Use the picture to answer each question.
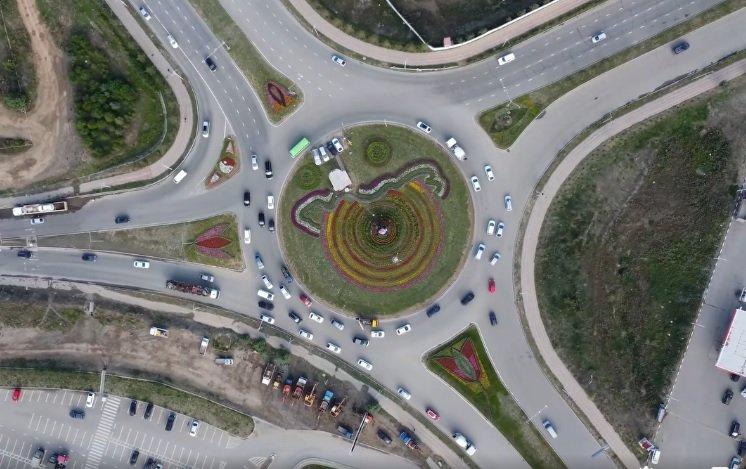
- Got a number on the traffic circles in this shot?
1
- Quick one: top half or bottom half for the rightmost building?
bottom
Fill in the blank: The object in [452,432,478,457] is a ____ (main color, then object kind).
white truck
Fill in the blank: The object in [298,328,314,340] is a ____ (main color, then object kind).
white vehicle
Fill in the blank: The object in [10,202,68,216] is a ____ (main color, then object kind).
white vehicle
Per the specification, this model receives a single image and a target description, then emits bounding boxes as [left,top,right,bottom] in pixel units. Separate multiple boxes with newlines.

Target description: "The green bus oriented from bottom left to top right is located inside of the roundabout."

[288,137,311,158]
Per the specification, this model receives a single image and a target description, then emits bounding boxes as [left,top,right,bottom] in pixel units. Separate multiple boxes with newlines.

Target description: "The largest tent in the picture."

[329,169,352,192]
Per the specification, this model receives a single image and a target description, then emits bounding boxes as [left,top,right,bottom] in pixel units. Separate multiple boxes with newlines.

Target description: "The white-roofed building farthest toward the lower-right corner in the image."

[708,308,746,377]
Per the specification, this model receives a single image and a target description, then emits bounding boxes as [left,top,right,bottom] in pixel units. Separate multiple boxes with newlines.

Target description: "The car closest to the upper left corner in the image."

[138,6,153,21]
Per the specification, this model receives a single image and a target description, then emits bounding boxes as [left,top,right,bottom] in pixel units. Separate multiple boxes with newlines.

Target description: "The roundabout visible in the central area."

[240,84,512,355]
